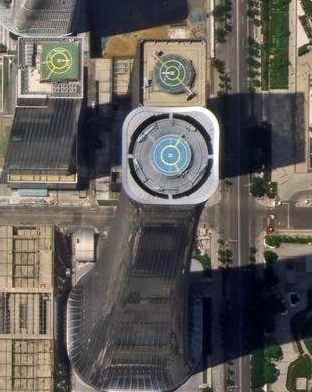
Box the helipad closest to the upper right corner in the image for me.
[149,52,190,92]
